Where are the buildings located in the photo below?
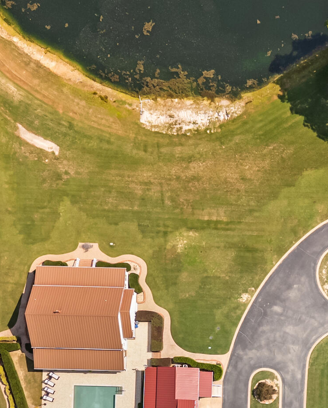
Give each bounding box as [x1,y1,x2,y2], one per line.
[25,266,139,371]
[143,367,214,408]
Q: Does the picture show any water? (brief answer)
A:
Yes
